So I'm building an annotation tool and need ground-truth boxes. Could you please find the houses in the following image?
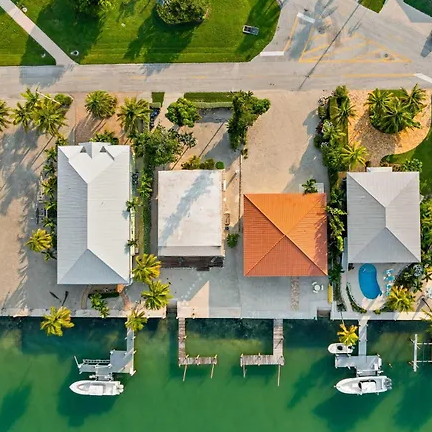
[157,170,224,271]
[242,193,327,278]
[57,144,145,284]
[345,167,420,262]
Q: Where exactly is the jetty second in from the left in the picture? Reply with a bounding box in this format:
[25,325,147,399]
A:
[177,314,217,379]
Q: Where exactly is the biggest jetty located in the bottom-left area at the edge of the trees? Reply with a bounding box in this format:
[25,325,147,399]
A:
[74,313,137,377]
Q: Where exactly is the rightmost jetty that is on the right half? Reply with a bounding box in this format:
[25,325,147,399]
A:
[334,313,382,377]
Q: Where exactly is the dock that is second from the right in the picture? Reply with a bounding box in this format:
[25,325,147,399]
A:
[241,314,284,380]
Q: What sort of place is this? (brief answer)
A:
residential area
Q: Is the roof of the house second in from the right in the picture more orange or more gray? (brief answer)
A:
orange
